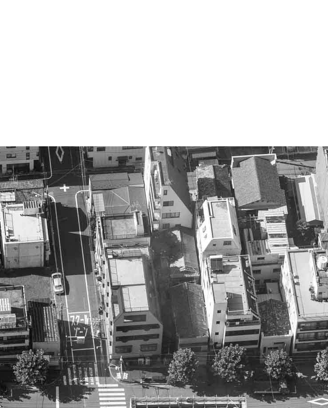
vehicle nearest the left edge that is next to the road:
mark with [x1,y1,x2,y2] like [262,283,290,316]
[51,272,64,296]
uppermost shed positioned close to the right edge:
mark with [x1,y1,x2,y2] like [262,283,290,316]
[231,144,316,169]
